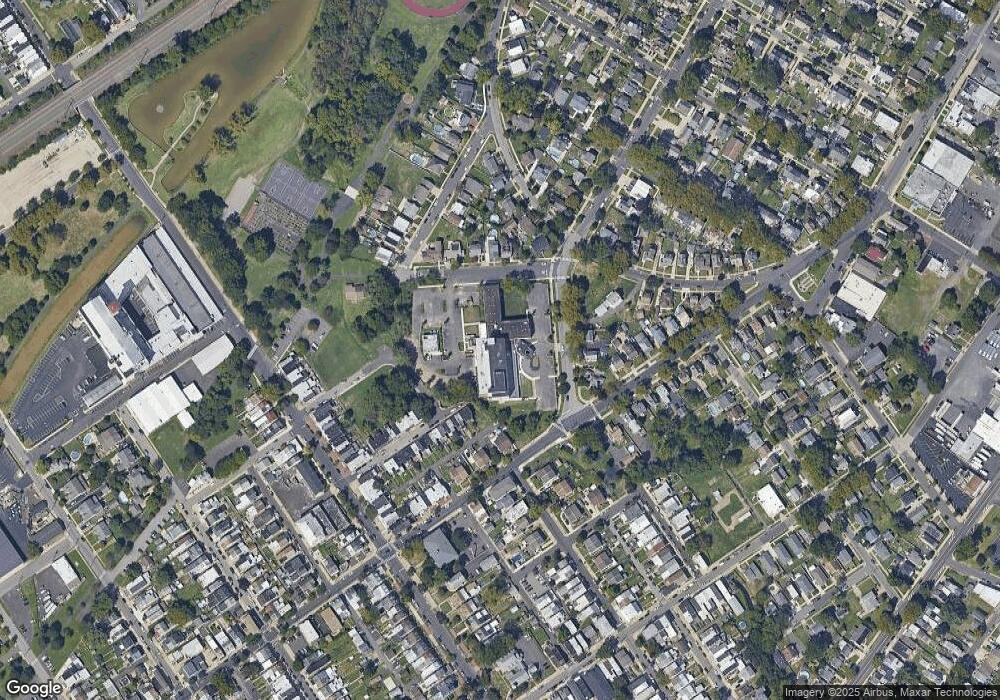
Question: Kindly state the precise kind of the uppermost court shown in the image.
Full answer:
In the photo, the uppermost court shows up as a basketball court.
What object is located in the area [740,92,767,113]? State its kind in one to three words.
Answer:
house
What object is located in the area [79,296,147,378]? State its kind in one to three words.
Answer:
shed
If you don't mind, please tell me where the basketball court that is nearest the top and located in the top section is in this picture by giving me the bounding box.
[263,161,327,219]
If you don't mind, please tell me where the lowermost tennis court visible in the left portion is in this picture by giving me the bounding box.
[240,192,309,255]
